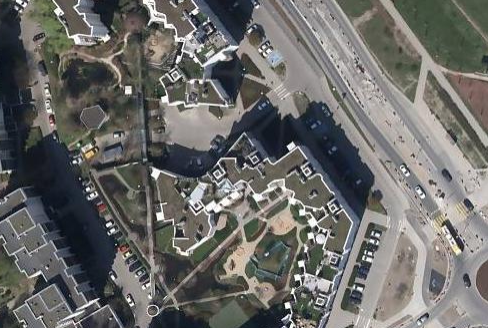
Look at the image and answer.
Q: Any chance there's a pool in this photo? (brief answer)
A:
No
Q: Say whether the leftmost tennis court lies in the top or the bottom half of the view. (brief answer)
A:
bottom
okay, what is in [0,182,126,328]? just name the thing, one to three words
building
